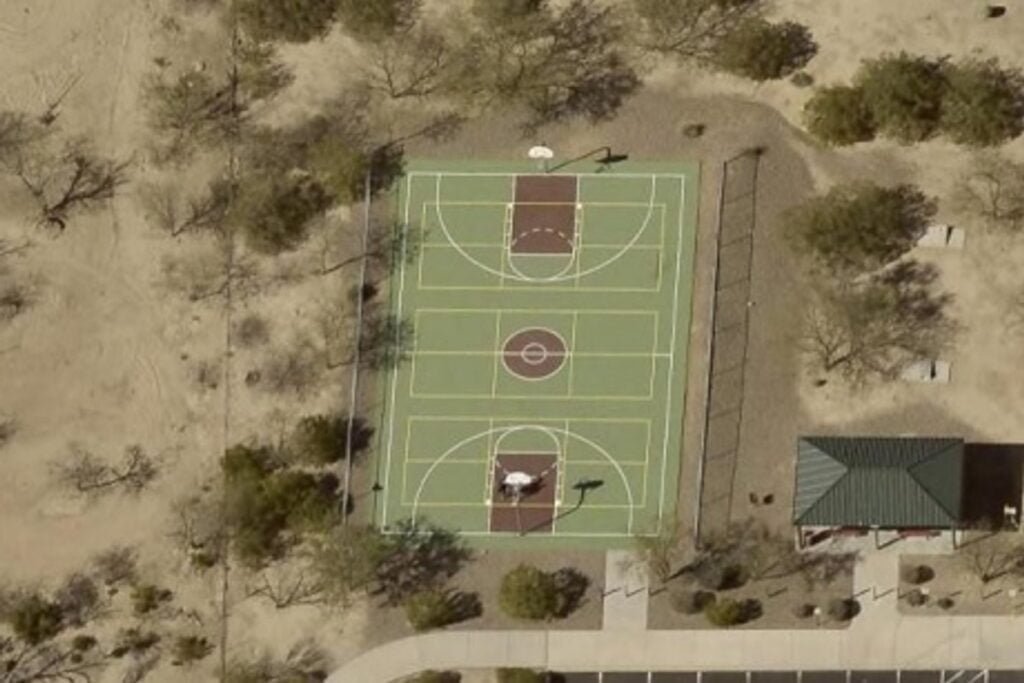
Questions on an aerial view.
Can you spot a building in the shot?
Yes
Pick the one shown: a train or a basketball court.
basketball court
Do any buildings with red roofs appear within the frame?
No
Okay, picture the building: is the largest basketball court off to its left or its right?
left of it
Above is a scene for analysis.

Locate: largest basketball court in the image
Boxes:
[366,159,701,552]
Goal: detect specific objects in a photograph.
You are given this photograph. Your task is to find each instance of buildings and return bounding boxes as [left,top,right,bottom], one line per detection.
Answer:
[794,436,965,556]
